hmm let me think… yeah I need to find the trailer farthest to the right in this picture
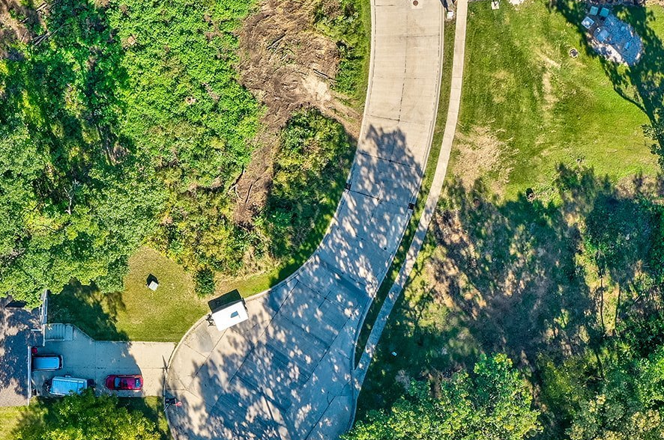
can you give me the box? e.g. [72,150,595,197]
[208,302,249,330]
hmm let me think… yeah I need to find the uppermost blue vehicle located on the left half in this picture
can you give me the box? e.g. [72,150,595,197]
[30,353,63,372]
